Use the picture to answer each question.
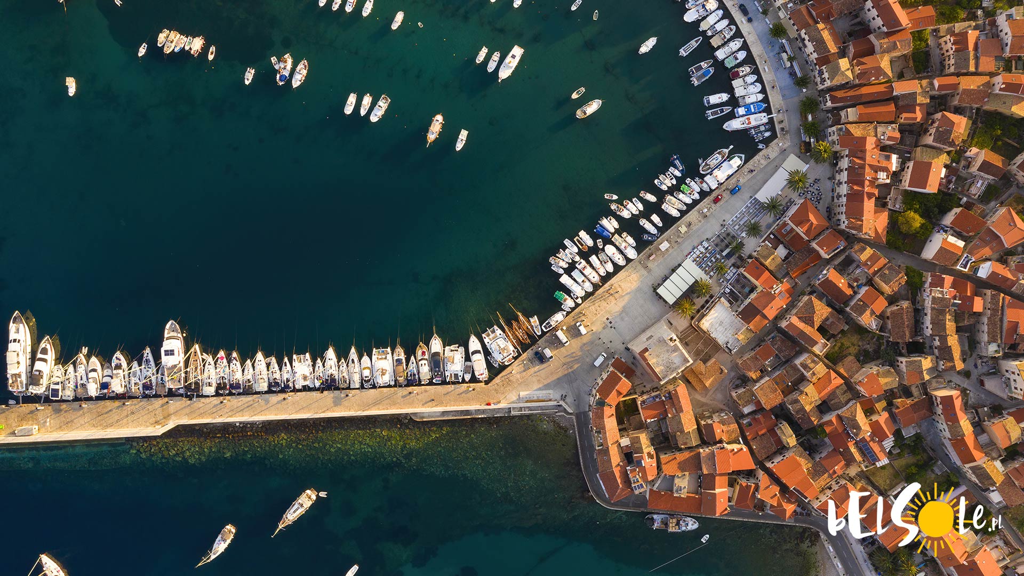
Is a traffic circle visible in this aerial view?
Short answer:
No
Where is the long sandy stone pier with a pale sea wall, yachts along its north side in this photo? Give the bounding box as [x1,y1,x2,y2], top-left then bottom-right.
[0,384,561,443]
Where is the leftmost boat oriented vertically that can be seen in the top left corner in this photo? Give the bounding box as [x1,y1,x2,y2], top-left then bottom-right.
[65,76,77,100]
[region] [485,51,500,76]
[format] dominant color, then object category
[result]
white boat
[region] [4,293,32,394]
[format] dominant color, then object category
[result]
white boat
